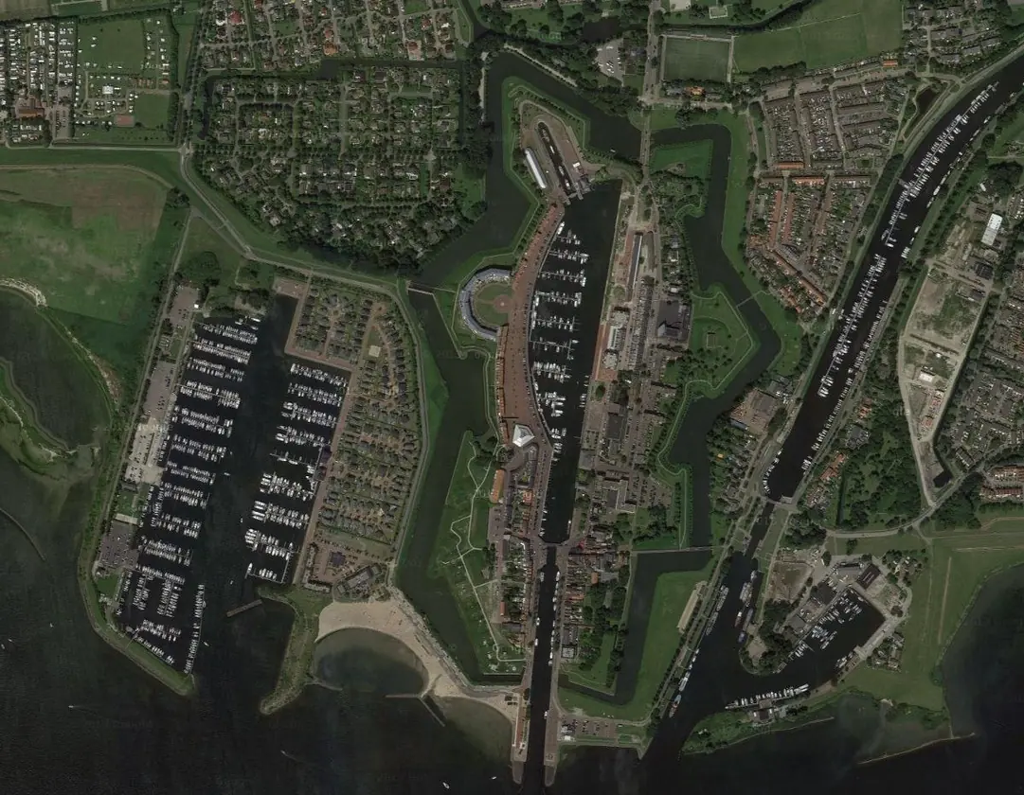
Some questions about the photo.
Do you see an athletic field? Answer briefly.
Yes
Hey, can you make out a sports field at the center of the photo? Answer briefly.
No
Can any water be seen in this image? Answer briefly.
Yes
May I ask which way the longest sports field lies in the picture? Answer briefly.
from side to side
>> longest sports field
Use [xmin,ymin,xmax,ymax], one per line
[734,2,904,68]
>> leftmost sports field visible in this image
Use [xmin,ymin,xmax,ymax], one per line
[665,38,729,80]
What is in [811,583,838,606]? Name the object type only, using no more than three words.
building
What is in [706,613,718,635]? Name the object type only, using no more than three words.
ship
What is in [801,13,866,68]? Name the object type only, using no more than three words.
sports field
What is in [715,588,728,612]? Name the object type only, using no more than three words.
ship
